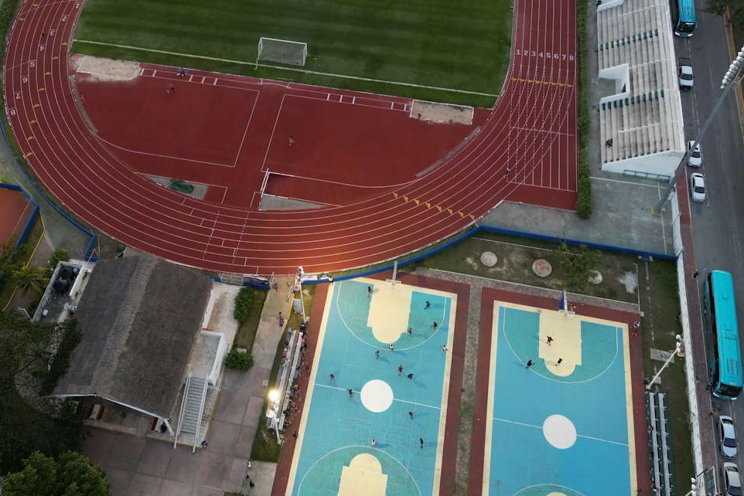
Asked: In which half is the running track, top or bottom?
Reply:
top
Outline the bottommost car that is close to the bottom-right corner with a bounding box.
[723,461,744,496]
